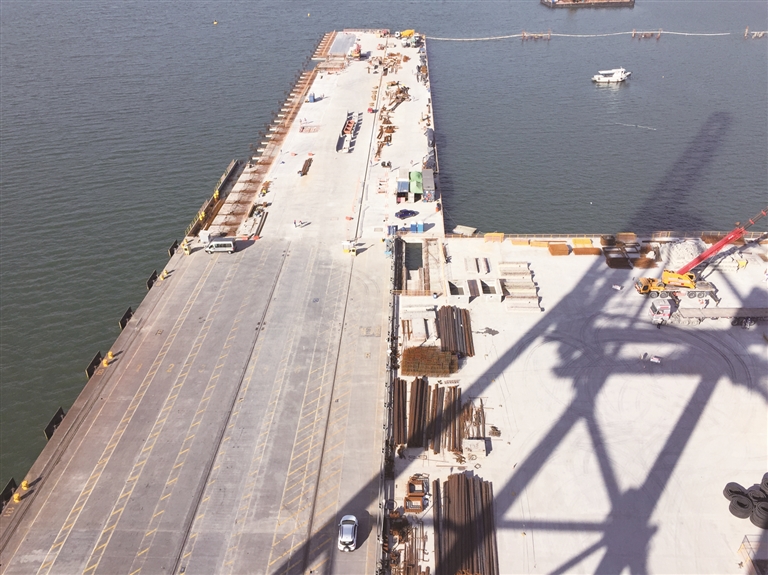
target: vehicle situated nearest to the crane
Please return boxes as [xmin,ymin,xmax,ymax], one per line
[646,296,768,325]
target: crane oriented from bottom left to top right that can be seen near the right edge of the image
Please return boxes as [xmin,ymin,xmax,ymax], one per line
[631,205,768,305]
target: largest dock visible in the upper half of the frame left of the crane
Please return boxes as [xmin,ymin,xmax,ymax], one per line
[214,30,443,244]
